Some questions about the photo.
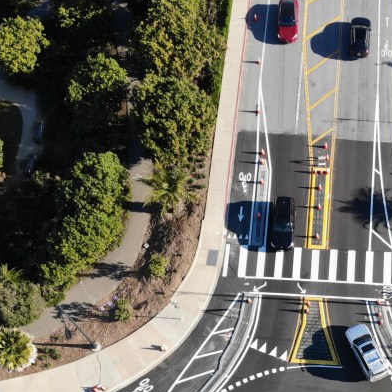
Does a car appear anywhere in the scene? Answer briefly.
Yes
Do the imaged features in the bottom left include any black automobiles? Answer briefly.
No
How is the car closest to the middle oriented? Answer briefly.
from top to bottom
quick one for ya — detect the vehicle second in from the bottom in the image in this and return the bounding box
[270,197,298,251]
